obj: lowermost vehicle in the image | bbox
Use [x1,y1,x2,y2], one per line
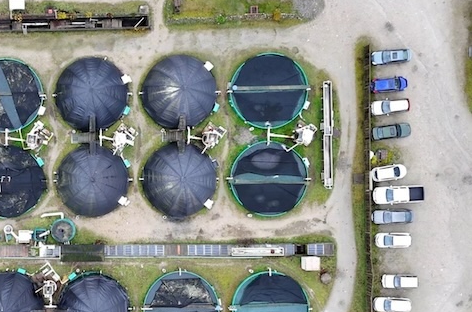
[373,296,413,312]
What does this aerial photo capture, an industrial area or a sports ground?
industrial area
